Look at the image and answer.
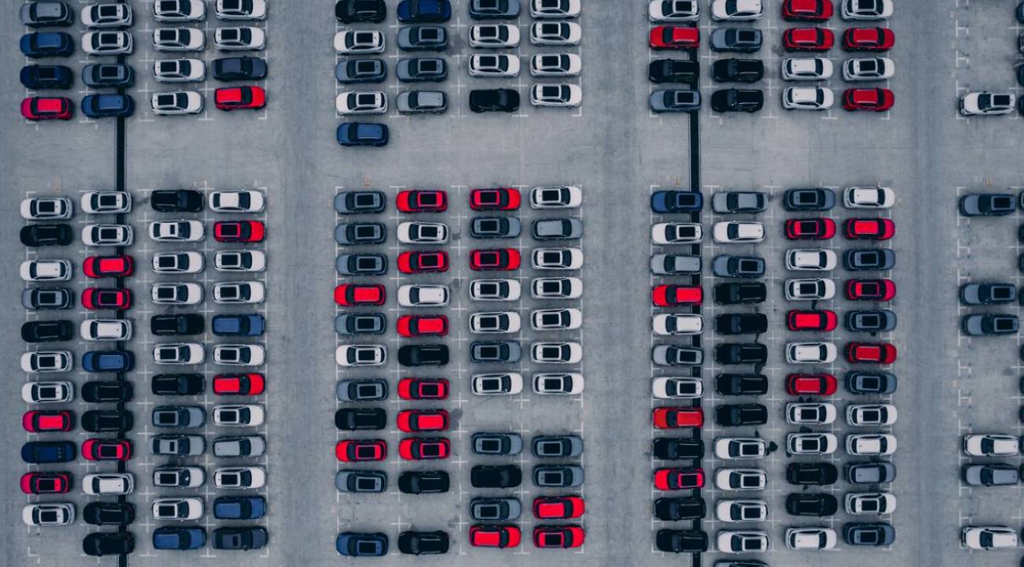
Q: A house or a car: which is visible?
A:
car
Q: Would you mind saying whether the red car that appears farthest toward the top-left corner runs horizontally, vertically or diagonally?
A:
horizontally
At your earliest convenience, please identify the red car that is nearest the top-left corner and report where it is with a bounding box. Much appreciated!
[22,94,75,121]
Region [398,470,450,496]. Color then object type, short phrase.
black car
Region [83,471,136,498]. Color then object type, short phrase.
white car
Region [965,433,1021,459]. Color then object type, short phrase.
white car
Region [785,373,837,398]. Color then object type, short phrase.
red car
